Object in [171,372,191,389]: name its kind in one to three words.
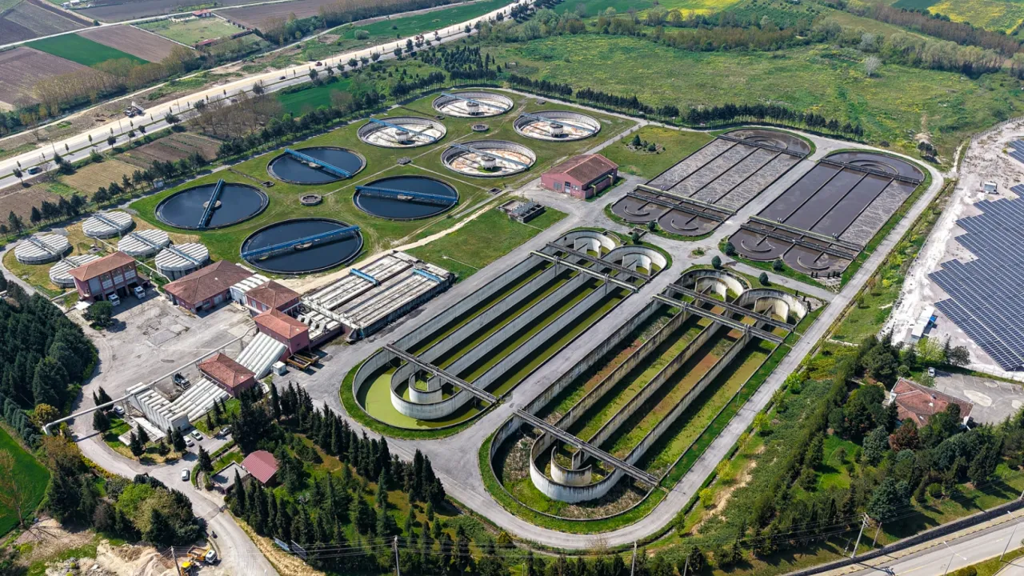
vehicle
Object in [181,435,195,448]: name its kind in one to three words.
vehicle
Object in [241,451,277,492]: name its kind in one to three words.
building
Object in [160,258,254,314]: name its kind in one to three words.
building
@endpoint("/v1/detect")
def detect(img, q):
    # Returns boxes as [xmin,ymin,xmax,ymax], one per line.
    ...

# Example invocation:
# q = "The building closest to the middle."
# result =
[542,154,621,200]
